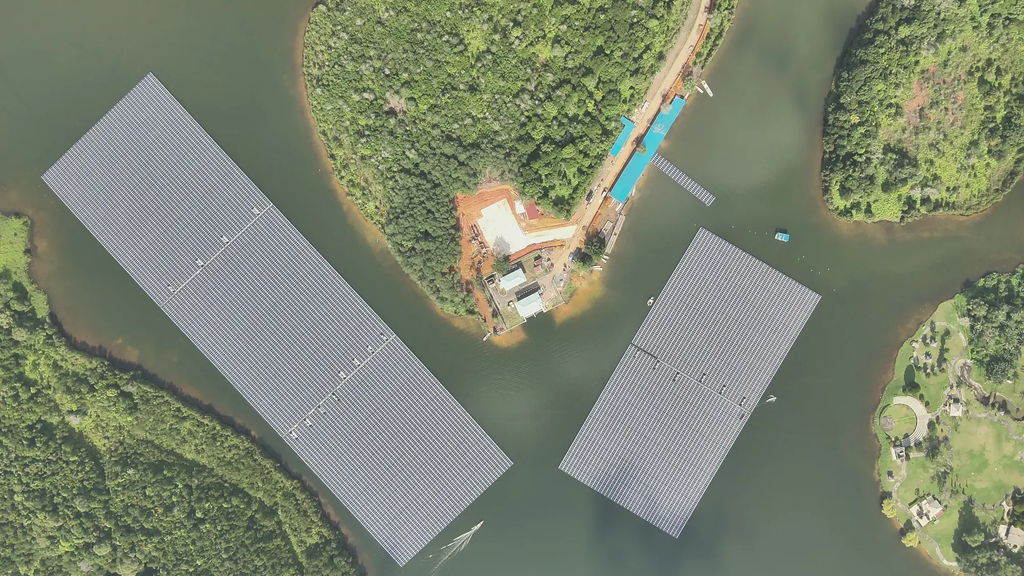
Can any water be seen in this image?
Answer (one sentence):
Yes, the picture does contain water.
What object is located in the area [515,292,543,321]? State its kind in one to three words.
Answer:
building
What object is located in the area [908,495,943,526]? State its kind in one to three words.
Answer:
building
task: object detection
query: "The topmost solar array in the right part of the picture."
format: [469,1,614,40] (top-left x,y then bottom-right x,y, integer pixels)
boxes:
[651,152,716,206]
